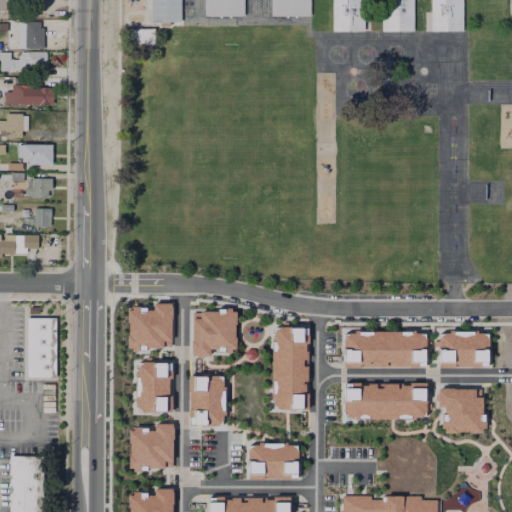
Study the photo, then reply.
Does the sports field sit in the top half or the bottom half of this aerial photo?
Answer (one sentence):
You can find the sports field in the top half.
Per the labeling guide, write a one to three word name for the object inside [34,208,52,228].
house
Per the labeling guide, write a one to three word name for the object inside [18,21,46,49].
house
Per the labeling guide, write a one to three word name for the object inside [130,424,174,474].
building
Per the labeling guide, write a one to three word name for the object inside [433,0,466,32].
building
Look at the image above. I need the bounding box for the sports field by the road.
[114,0,512,282]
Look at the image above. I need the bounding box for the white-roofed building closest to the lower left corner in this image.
[10,448,44,512]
